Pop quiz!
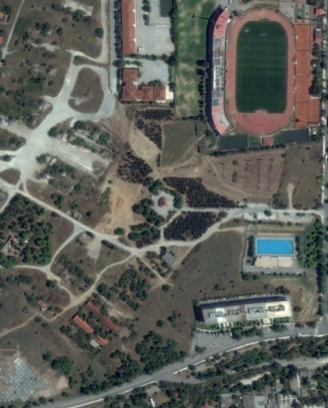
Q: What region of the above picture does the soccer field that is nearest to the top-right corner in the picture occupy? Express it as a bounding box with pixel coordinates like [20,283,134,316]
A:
[236,21,288,113]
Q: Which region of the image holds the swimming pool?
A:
right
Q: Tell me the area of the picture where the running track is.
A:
top right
